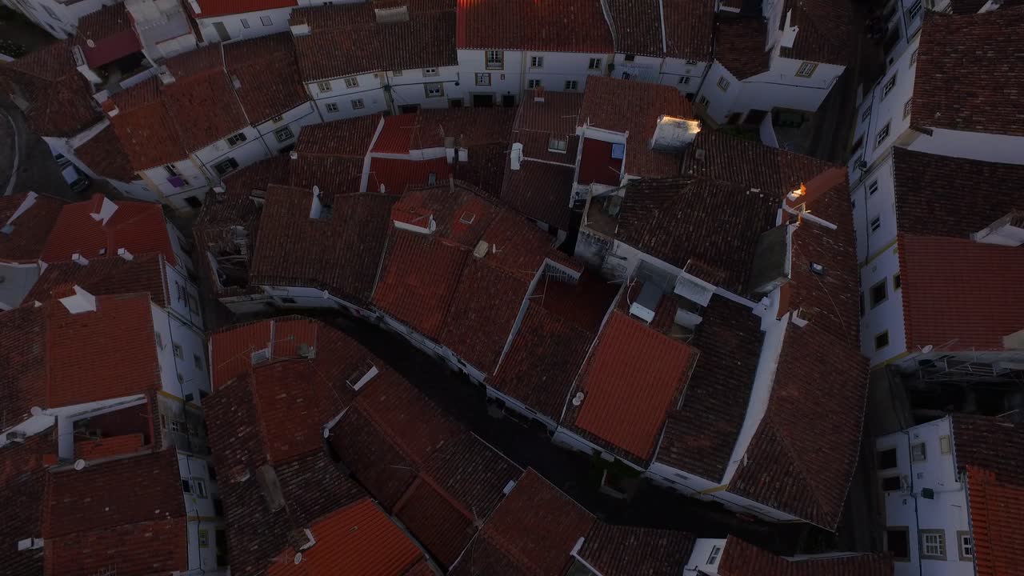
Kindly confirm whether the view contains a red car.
No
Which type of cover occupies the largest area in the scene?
buildings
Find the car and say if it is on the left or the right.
left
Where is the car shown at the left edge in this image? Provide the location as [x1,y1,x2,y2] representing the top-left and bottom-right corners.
[46,148,89,195]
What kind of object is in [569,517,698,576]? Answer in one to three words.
house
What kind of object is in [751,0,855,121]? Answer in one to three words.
house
